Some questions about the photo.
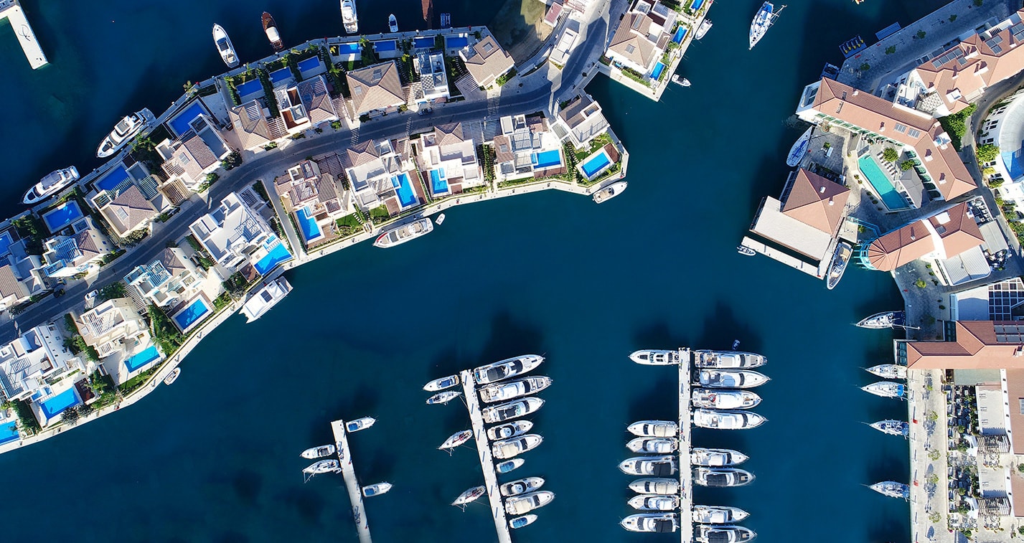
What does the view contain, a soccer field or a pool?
pool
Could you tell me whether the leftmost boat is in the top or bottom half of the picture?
top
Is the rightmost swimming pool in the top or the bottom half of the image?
top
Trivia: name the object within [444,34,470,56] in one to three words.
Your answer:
swimming pool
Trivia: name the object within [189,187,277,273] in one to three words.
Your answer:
house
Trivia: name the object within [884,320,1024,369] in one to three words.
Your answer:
building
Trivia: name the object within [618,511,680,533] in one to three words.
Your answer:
boat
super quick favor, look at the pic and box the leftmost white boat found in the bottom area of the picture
[165,368,185,386]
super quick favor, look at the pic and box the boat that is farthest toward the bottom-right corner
[867,482,912,503]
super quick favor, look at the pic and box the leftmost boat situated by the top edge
[211,21,240,70]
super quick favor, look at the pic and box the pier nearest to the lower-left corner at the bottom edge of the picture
[331,419,372,543]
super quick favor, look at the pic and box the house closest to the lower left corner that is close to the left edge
[0,327,90,403]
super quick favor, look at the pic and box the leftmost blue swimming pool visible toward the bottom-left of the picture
[0,418,23,446]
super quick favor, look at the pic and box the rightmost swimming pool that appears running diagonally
[854,151,913,215]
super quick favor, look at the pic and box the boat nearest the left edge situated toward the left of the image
[16,165,82,204]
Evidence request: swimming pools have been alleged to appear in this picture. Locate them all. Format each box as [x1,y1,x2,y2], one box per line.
[854,151,913,215]
[31,378,95,422]
[421,167,463,196]
[240,235,296,282]
[648,60,666,81]
[412,34,437,52]
[293,204,339,247]
[337,40,363,60]
[267,64,295,88]
[0,231,18,255]
[444,34,470,56]
[298,52,325,80]
[531,147,567,177]
[92,154,136,193]
[166,290,215,335]
[691,0,705,12]
[576,143,620,182]
[40,201,85,233]
[671,25,689,45]
[385,169,426,215]
[372,38,398,57]
[120,343,165,378]
[0,418,23,446]
[163,96,219,140]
